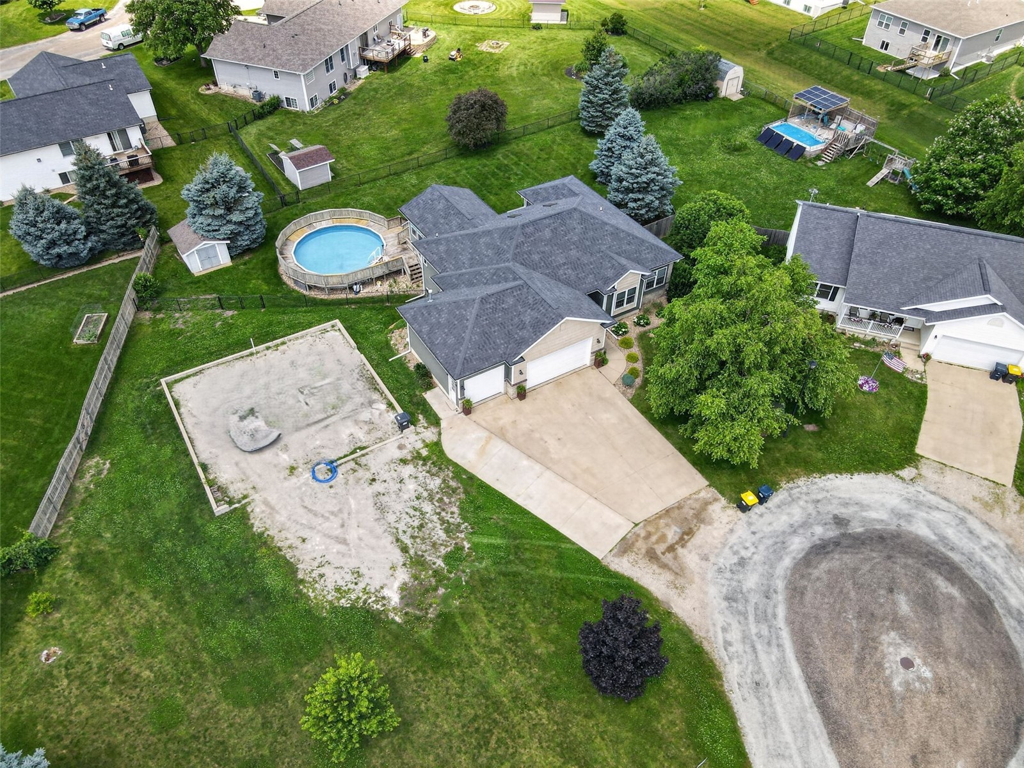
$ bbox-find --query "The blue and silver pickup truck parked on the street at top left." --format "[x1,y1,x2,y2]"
[61,5,110,31]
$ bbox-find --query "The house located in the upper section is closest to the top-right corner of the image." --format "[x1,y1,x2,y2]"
[852,0,1024,76]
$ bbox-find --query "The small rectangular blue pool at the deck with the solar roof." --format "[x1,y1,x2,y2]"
[767,122,829,160]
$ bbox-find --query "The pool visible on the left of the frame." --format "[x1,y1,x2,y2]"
[290,224,389,291]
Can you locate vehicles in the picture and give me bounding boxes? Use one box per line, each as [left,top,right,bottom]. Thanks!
[61,5,110,31]
[97,19,149,50]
